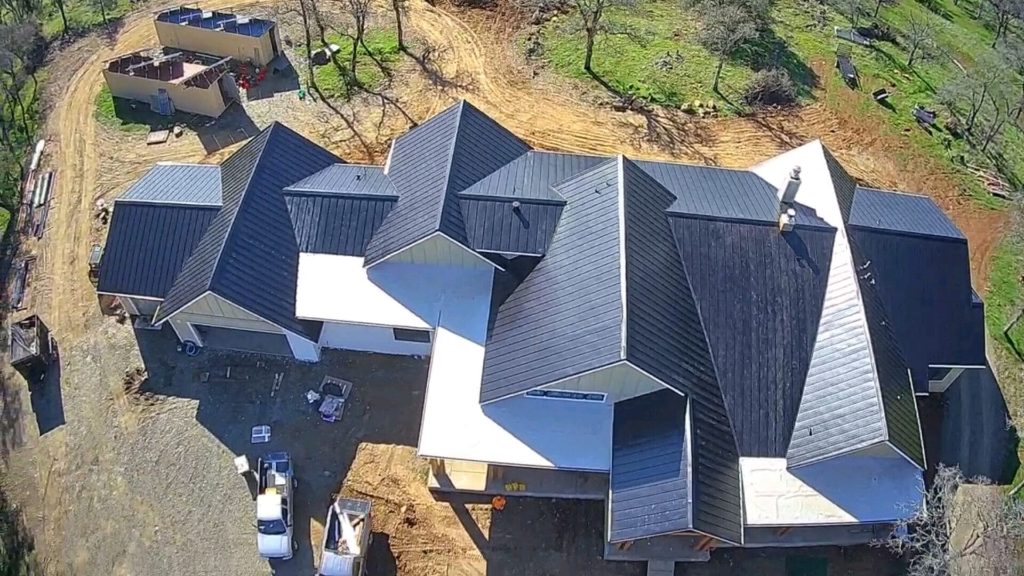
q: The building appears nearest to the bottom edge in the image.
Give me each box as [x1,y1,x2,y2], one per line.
[95,99,989,576]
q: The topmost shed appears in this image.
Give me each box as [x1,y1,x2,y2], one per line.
[153,2,283,64]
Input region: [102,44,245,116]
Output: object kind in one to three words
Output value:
shed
